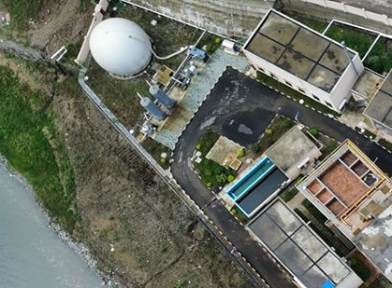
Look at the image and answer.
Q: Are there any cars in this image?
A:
No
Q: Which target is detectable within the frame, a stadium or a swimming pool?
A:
swimming pool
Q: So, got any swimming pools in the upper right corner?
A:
No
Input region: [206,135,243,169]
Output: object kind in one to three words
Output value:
shed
